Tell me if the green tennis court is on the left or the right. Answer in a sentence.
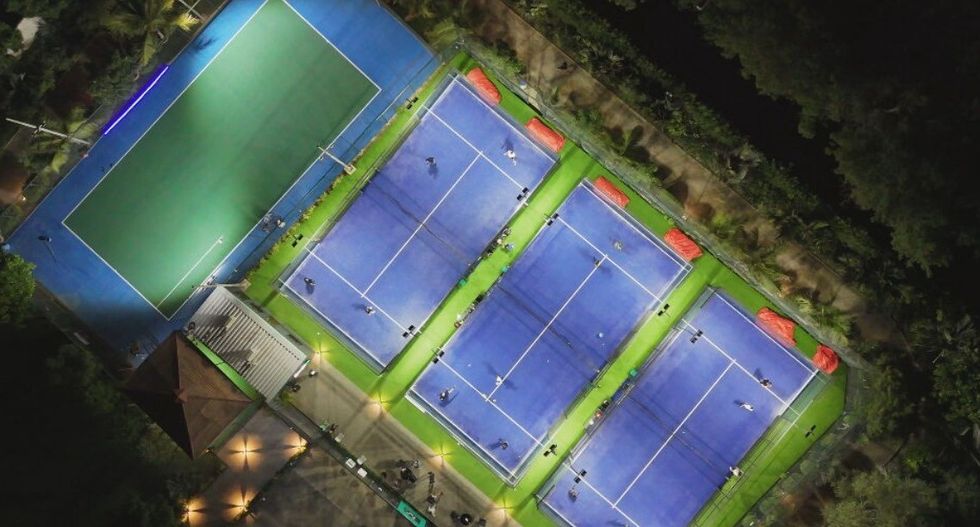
The green tennis court sits on the left side.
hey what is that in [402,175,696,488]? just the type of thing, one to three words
sports court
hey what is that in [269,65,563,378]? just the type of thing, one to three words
sports court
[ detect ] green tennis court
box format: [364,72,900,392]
[2,0,440,366]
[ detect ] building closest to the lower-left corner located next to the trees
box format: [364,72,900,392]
[122,330,256,460]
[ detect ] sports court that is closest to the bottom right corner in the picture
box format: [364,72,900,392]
[534,286,831,527]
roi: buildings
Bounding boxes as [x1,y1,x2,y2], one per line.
[184,286,317,401]
[122,330,256,460]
